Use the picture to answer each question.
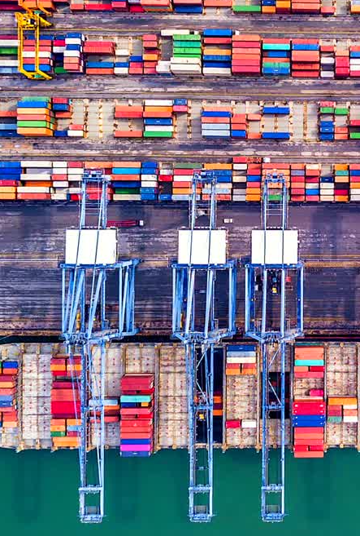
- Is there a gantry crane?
Yes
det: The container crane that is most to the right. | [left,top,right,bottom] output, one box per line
[242,162,314,524]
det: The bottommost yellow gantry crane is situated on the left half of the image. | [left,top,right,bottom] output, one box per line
[16,12,57,84]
